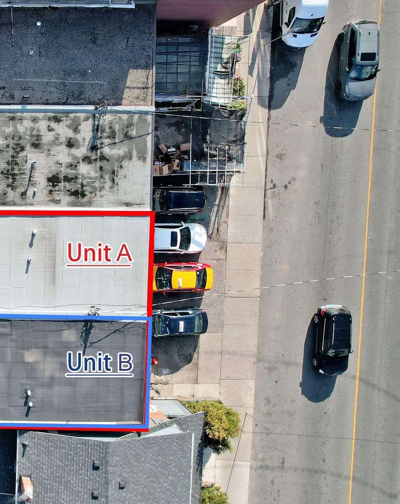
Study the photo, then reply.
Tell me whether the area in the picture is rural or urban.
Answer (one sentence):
This place is urban.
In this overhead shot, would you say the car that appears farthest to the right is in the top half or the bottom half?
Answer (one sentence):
The car that appears farthest to the right sits in the top half of the picture.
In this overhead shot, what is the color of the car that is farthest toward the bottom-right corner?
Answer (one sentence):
The car that is farthest toward the bottom-right corner looks black in the image.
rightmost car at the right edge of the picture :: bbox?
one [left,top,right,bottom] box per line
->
[334,21,383,102]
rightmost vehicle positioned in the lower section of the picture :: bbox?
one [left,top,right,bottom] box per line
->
[309,302,354,374]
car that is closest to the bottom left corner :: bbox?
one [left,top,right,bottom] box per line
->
[149,305,208,341]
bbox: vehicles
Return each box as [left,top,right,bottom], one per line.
[334,21,383,102]
[149,305,208,341]
[152,222,207,256]
[153,183,211,218]
[309,302,354,374]
[275,0,329,51]
[151,261,214,295]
